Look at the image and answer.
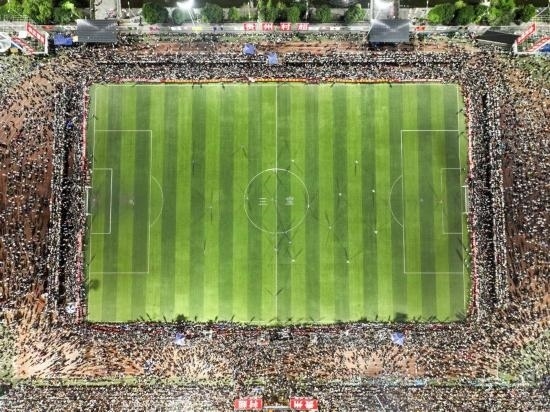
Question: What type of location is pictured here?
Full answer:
This looks like a sports ground.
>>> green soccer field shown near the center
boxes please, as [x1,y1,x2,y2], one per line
[82,80,472,325]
